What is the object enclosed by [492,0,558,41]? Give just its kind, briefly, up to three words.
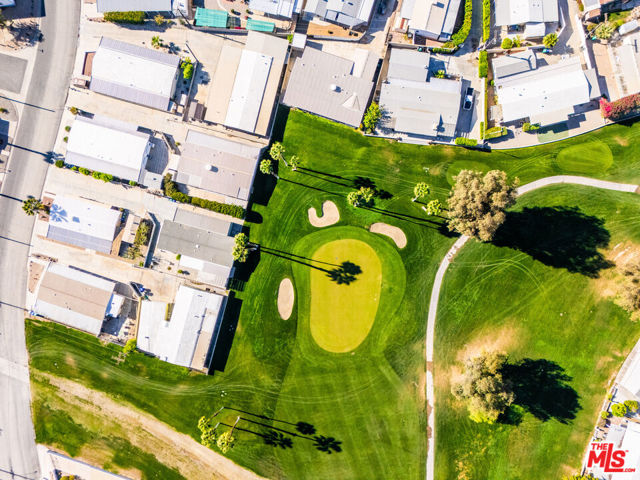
house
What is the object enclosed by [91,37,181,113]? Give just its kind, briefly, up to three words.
house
